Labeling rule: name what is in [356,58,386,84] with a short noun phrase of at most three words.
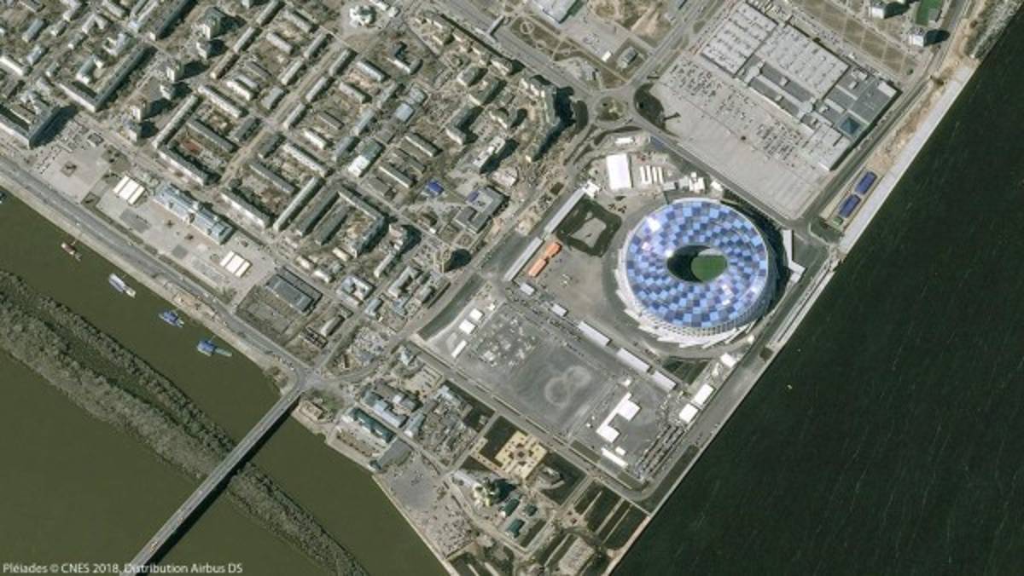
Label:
building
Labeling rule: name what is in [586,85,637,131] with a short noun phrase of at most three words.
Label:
roundabout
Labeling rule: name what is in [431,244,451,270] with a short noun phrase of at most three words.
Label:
building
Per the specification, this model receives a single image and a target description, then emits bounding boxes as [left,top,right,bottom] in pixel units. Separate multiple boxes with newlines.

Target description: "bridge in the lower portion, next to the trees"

[120,376,310,576]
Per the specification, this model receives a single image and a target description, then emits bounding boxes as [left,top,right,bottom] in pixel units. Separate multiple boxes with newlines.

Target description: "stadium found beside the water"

[616,197,776,350]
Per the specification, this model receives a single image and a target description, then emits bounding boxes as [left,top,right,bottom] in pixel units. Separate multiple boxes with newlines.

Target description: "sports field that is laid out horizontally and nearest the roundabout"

[668,253,728,280]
